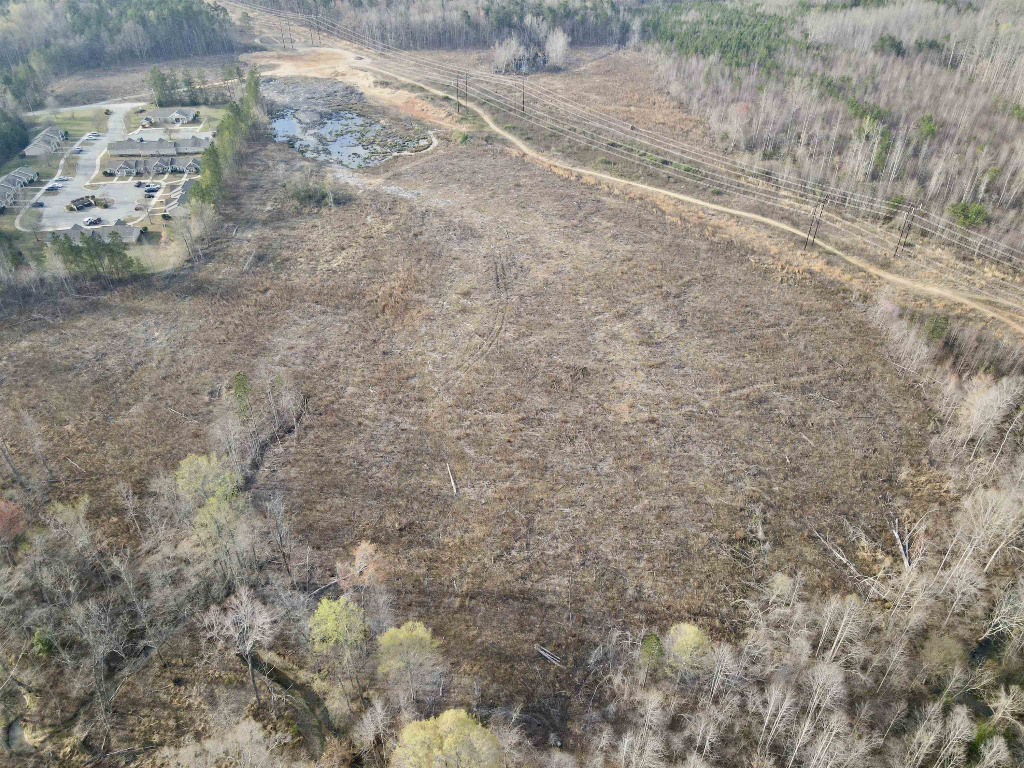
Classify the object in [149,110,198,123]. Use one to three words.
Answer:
building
